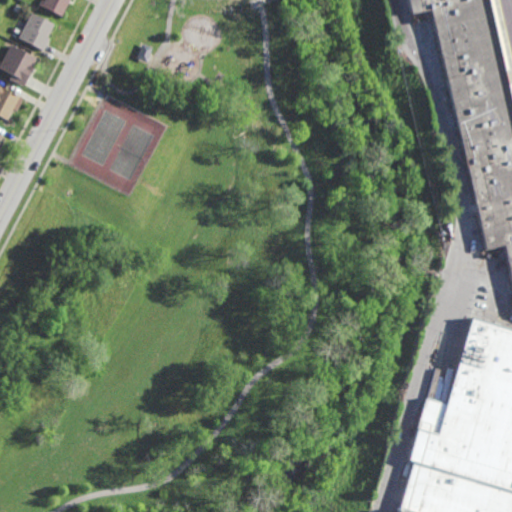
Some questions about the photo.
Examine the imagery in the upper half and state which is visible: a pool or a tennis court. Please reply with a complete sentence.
Visible in the upper half is a tennis court.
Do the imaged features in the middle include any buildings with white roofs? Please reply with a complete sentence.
No, I can find no building with a white roof in the middle.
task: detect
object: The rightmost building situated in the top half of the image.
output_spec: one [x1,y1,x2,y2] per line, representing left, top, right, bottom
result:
[406,0,512,296]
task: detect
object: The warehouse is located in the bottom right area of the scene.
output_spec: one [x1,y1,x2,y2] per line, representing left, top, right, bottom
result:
[396,318,512,512]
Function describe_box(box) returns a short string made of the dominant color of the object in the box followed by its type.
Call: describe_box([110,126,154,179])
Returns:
gray tennis court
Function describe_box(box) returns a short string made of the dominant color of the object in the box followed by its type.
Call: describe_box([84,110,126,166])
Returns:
gray tennis court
